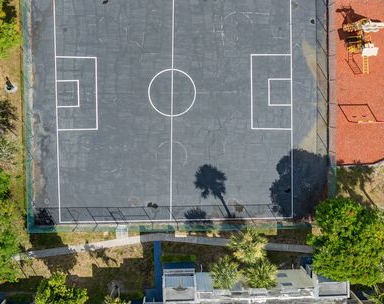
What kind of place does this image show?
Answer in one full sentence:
It's a sports ground.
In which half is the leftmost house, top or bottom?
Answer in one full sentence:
You can find the leftmost house in the bottom half.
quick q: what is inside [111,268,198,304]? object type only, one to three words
house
